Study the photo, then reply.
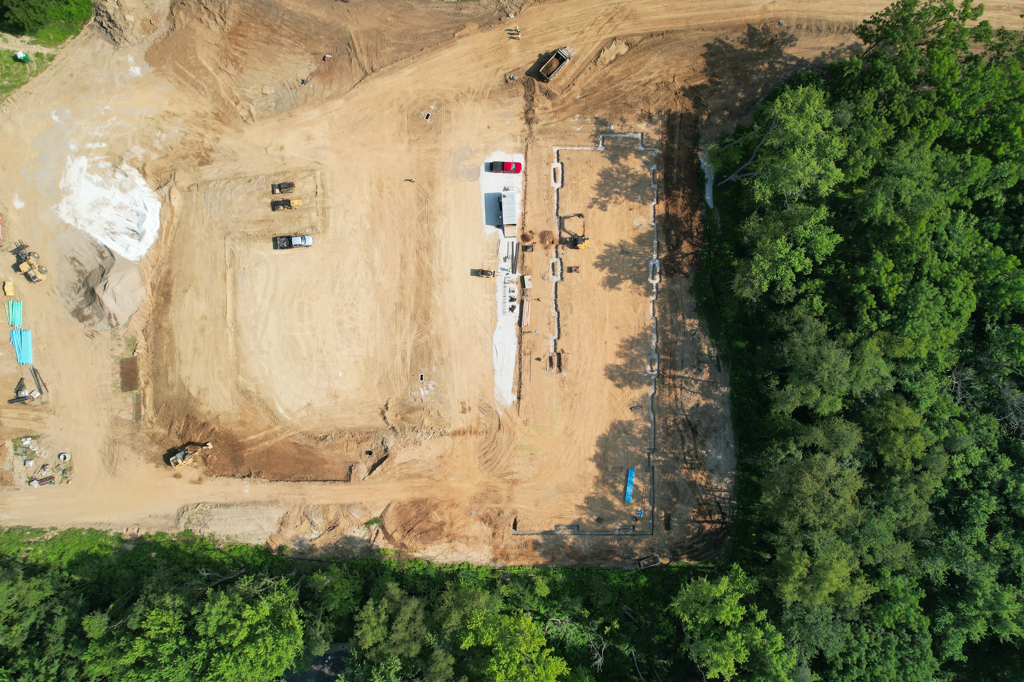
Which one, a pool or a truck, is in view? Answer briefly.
truck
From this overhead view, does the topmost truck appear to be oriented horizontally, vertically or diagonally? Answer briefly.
diagonally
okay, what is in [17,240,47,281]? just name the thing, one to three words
work vehicle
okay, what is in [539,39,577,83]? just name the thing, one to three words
truck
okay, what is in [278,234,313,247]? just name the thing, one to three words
vehicle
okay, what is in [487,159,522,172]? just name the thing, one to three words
vehicle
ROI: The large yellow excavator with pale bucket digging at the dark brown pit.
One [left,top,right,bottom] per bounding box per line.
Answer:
[166,441,214,473]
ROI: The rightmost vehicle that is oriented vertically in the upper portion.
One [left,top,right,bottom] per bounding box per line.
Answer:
[573,211,591,252]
